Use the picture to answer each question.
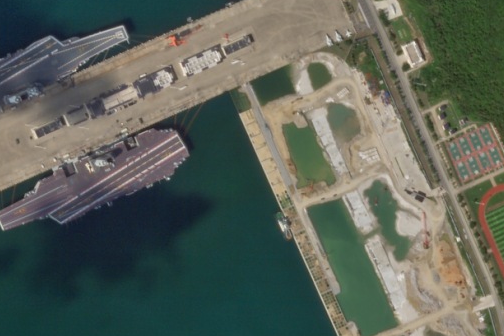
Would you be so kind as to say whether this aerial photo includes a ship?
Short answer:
Yes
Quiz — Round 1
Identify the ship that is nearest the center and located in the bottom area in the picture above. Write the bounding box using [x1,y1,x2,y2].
[275,211,292,240]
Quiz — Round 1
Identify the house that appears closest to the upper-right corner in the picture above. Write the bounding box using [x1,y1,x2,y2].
[403,41,424,66]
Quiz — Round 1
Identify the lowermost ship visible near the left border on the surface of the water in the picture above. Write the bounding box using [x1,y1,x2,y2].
[0,127,189,231]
